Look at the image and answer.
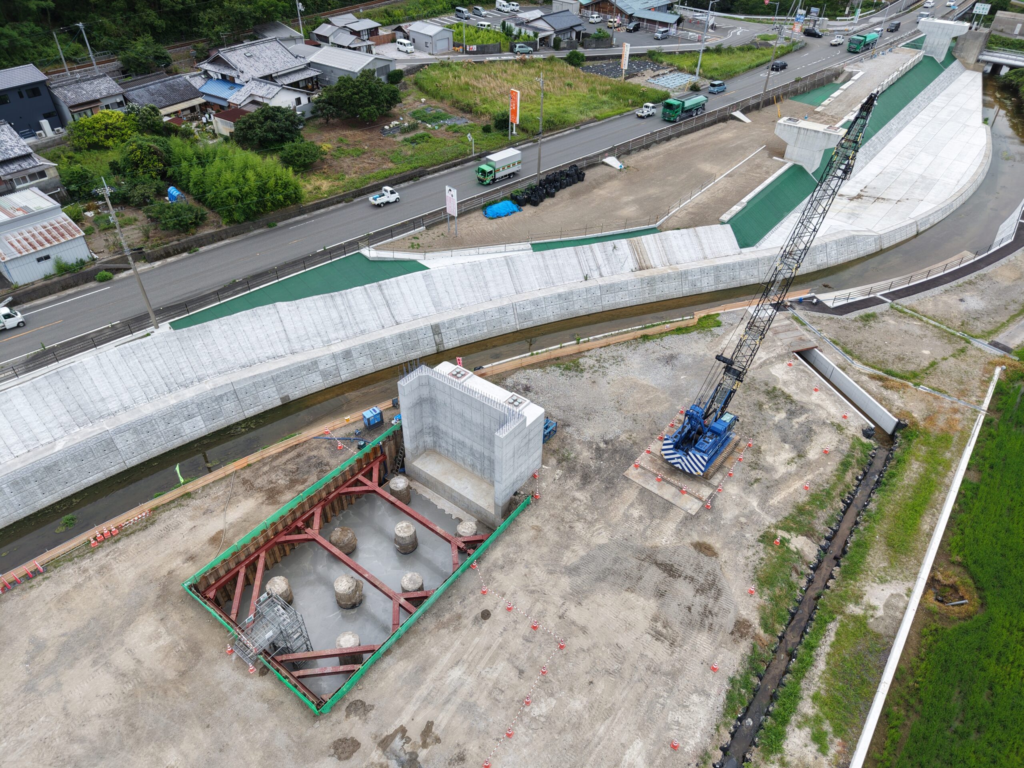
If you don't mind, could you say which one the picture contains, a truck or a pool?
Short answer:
truck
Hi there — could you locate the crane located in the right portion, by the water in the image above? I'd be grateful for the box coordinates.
[660,76,890,480]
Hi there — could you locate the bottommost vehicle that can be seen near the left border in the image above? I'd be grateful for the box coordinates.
[0,300,24,325]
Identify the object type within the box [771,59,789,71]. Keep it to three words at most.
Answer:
vehicle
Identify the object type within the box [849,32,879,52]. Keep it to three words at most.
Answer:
vehicle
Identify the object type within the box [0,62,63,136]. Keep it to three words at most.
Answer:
house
